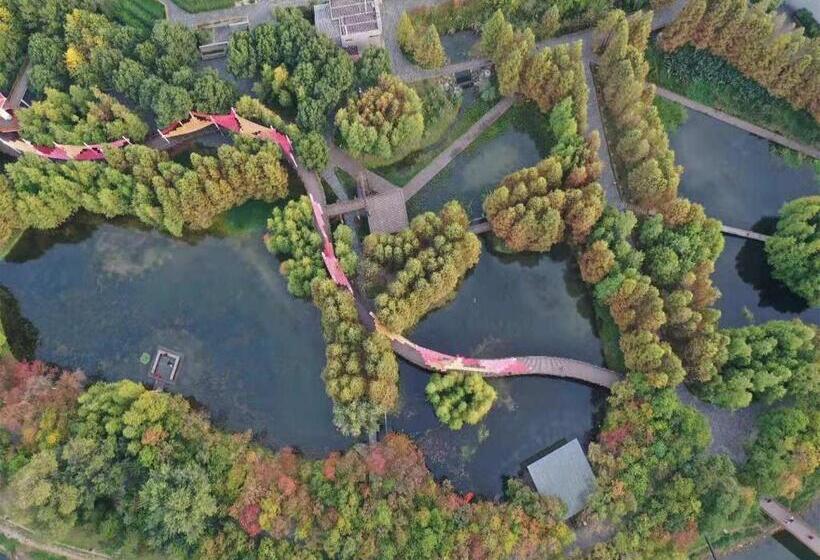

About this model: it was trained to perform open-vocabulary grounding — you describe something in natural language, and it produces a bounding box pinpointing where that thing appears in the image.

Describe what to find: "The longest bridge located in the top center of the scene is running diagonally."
[401,103,513,197]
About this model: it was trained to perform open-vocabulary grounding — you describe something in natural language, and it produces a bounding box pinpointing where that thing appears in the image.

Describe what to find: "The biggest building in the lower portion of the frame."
[525,439,600,518]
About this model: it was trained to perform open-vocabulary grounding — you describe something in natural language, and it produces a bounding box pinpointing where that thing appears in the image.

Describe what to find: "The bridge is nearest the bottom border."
[746,491,820,558]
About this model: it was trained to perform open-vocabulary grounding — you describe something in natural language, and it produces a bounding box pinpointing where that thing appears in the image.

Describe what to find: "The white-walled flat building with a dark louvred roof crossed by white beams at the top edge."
[330,0,384,61]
